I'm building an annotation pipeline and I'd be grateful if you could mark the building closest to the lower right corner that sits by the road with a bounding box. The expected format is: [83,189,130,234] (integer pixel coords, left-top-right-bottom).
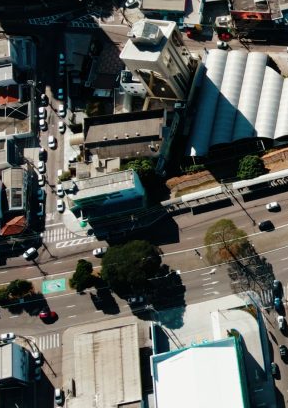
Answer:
[153,339,261,408]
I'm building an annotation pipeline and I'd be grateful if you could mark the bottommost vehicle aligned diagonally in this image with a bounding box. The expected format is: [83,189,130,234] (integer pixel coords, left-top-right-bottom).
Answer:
[21,246,40,261]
